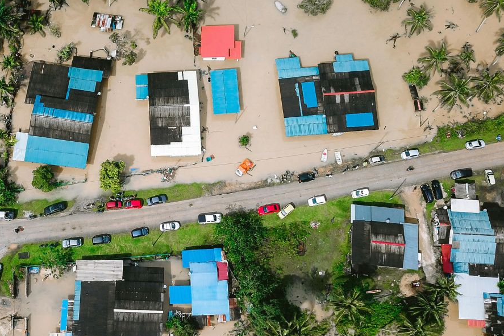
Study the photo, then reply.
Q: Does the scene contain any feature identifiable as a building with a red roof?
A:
Yes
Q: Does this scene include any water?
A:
Yes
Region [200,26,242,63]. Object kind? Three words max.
house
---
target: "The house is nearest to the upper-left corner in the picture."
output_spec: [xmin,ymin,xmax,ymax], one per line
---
[13,57,112,170]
